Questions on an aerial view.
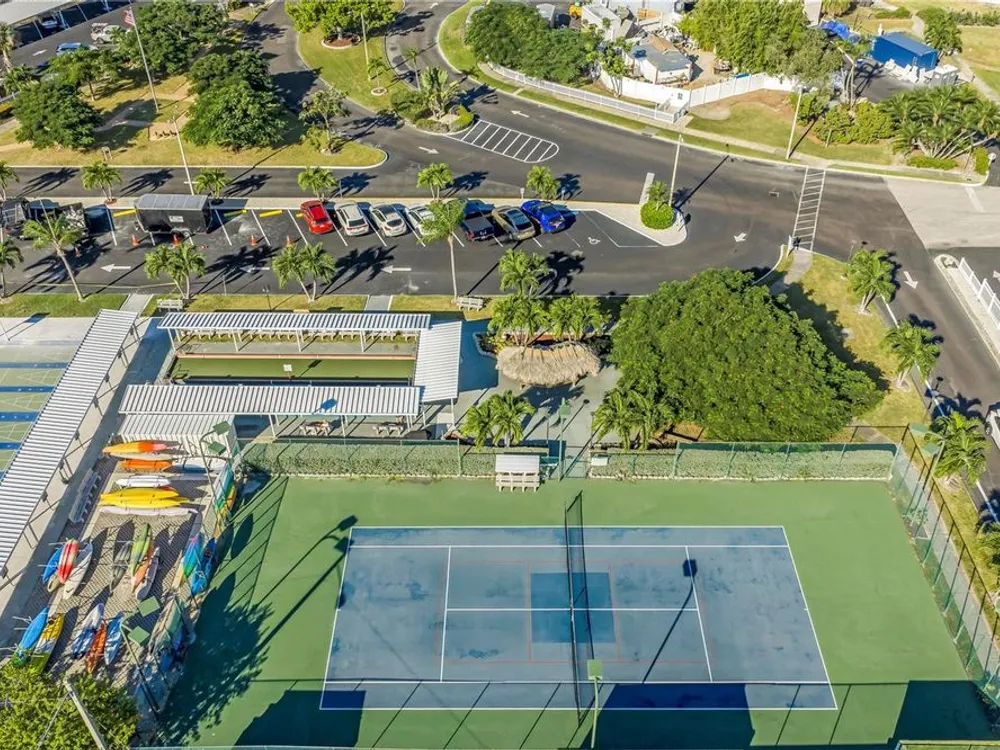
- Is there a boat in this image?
Yes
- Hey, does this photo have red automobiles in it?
Yes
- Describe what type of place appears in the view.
sports ground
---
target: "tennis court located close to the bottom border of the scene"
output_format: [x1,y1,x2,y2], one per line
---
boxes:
[155,477,1000,750]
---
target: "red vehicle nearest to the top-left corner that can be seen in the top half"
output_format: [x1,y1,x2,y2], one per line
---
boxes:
[298,205,335,238]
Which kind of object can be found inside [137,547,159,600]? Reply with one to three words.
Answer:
boat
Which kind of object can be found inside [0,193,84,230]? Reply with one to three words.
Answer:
truck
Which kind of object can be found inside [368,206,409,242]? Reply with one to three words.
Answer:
car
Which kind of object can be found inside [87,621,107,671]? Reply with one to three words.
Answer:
boat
